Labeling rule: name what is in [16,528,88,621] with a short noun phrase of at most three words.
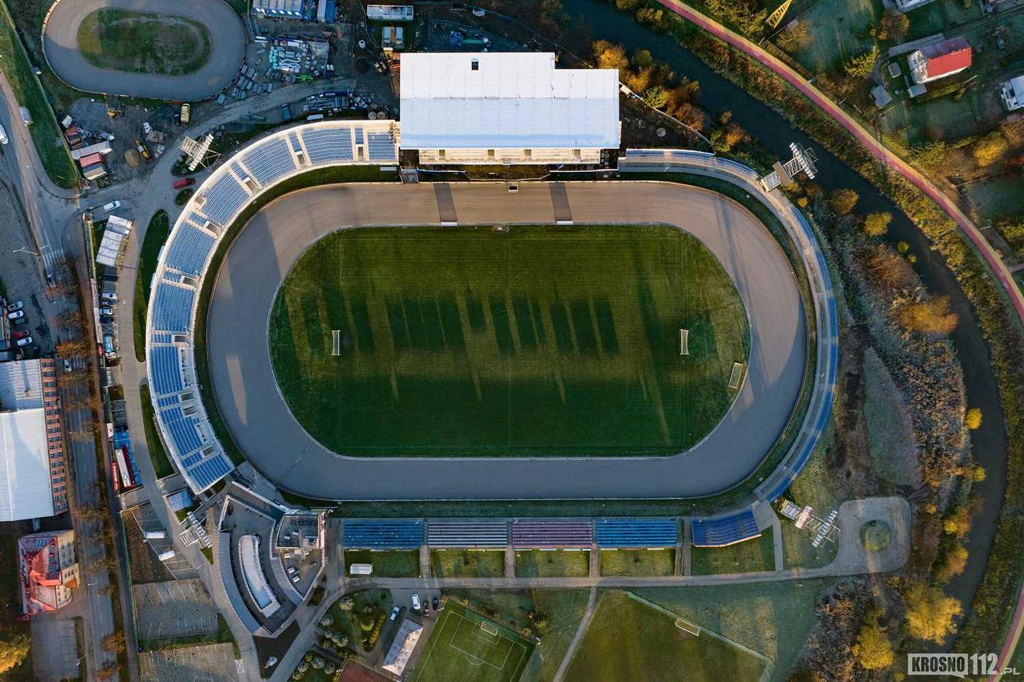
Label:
house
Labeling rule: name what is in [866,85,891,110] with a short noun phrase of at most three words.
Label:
shed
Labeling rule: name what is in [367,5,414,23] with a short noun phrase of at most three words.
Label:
building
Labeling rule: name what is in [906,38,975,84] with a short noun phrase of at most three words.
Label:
house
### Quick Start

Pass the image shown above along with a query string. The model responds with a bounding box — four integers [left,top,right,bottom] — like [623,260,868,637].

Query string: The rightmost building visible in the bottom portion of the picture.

[383,612,425,675]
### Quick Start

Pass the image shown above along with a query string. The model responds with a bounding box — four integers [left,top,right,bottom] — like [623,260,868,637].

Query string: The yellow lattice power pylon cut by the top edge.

[765,0,795,30]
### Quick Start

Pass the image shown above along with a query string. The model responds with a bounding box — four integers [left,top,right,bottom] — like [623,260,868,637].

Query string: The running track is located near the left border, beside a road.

[40,0,246,101]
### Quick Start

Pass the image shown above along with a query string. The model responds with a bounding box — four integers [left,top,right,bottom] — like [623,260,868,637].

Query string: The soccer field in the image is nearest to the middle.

[270,224,750,459]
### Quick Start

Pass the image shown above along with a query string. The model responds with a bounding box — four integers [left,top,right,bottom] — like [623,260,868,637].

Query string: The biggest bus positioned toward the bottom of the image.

[117,446,139,488]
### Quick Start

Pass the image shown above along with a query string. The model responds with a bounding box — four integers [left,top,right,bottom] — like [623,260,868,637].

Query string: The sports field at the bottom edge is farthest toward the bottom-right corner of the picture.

[567,591,769,682]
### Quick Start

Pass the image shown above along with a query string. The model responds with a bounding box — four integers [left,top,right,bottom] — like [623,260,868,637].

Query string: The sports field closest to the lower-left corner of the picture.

[403,603,539,682]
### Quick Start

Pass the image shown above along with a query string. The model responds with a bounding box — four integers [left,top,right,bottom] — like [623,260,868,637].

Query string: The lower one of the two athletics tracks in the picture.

[207,179,810,502]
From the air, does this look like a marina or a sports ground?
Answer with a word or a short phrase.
sports ground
